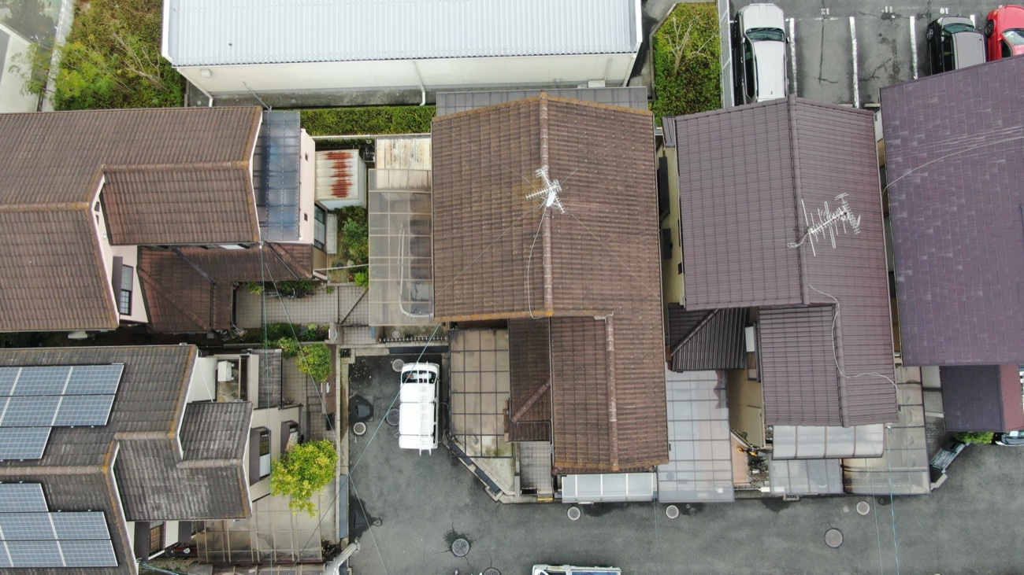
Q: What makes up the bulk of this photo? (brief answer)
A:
buildings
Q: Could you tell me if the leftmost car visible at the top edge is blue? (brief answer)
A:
No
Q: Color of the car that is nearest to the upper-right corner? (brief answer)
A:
red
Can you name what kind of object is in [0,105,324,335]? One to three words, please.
house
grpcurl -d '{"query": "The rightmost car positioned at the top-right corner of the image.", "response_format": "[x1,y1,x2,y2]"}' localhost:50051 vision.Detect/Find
[982,6,1024,62]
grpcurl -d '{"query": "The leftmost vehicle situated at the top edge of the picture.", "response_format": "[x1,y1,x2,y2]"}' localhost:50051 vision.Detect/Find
[733,5,788,106]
